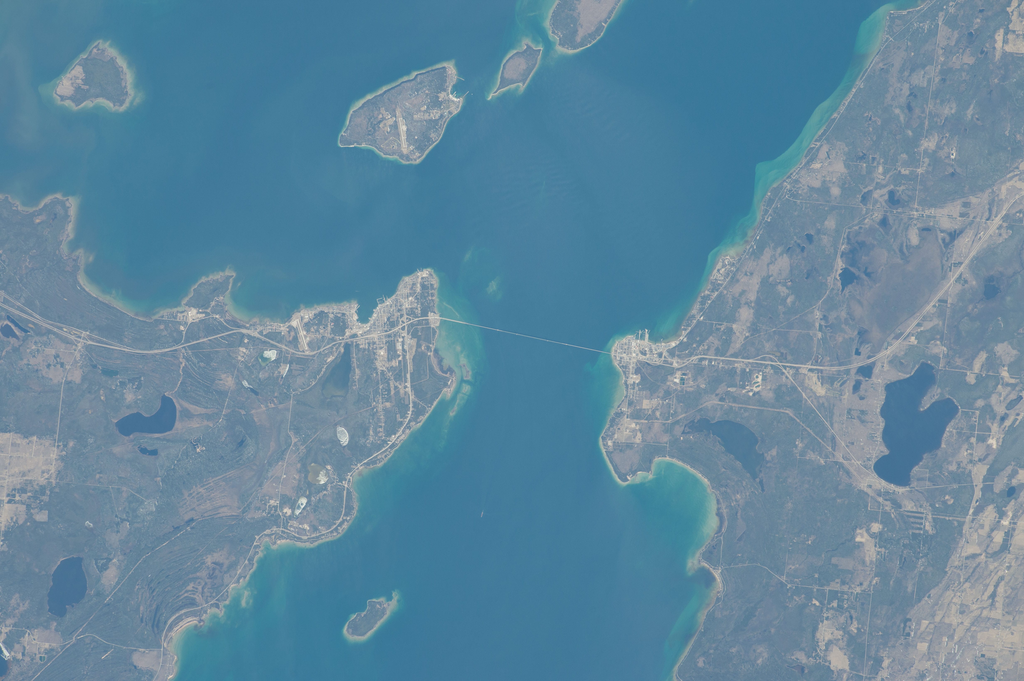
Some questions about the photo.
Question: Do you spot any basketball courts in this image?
No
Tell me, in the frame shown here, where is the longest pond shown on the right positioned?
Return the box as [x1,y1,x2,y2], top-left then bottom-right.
[683,418,764,478]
